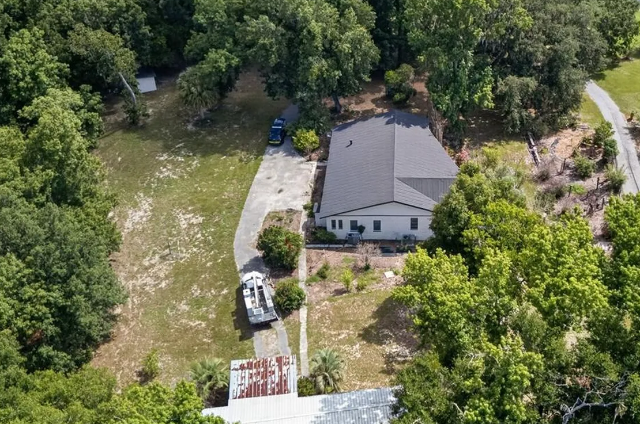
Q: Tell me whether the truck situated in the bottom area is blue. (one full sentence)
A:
No, the color of the truck situated in the bottom area is white.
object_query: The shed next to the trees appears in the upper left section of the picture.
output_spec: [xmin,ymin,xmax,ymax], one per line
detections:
[135,71,159,94]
